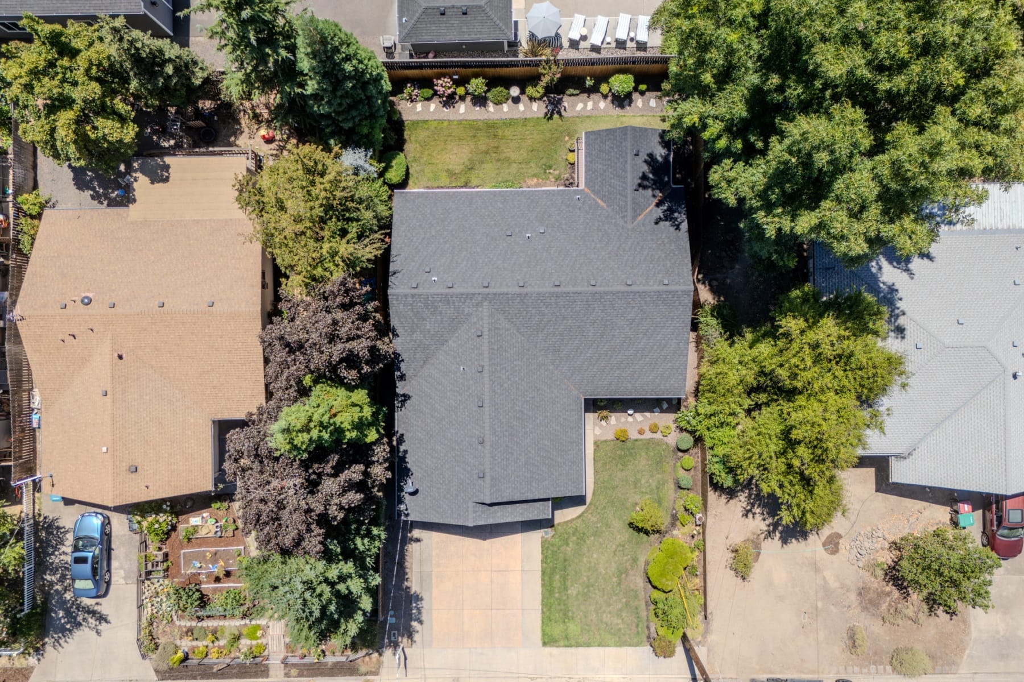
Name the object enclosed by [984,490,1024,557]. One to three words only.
car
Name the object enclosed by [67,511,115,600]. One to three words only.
car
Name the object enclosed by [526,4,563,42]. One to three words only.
umbrella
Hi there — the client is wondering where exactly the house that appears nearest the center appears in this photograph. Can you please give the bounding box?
[386,126,695,527]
